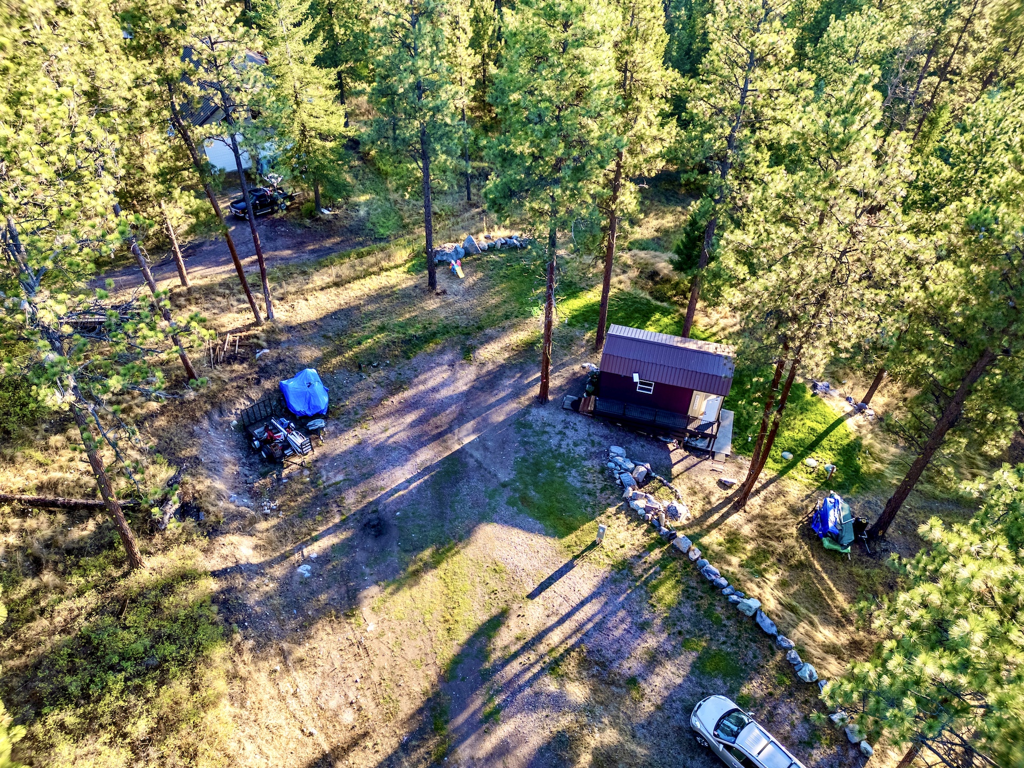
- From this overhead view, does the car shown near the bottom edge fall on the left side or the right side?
right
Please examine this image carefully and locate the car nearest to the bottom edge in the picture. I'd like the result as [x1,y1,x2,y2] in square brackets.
[689,697,809,768]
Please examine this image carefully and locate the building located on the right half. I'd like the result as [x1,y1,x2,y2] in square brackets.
[591,325,737,448]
